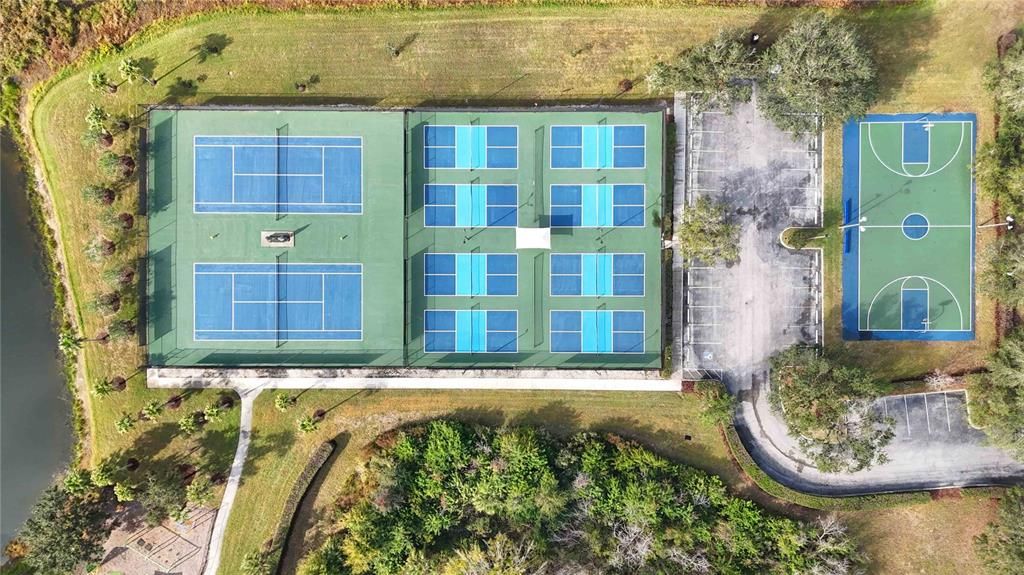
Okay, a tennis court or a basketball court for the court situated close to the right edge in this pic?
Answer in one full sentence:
The court situated close to the right edge can be classified as a basketball court.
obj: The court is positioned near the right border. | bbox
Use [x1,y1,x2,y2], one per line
[843,113,975,340]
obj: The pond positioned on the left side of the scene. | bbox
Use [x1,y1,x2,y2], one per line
[0,131,73,540]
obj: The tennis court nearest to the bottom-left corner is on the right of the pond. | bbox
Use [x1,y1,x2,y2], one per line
[193,257,362,348]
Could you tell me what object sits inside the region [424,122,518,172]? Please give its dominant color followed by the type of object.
blue sports court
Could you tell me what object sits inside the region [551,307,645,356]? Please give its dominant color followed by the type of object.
blue sports court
